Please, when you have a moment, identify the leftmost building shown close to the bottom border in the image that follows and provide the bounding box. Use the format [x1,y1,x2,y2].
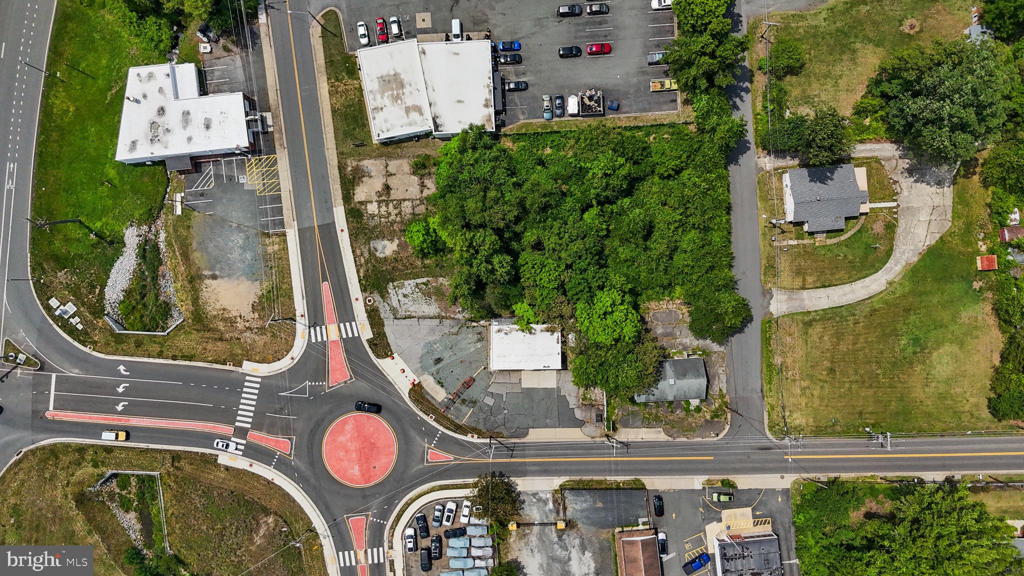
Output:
[613,524,660,576]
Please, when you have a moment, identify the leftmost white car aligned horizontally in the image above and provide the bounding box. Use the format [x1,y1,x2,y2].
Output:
[99,431,125,443]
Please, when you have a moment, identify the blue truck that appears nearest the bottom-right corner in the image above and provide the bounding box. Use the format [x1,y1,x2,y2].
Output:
[683,554,712,576]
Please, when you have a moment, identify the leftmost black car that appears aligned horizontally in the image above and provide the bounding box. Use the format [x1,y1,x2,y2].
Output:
[354,401,381,414]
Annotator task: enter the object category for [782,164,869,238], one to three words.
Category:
house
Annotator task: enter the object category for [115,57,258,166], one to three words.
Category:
building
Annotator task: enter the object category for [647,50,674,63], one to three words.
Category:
vehicle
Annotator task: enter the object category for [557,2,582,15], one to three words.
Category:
vehicle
